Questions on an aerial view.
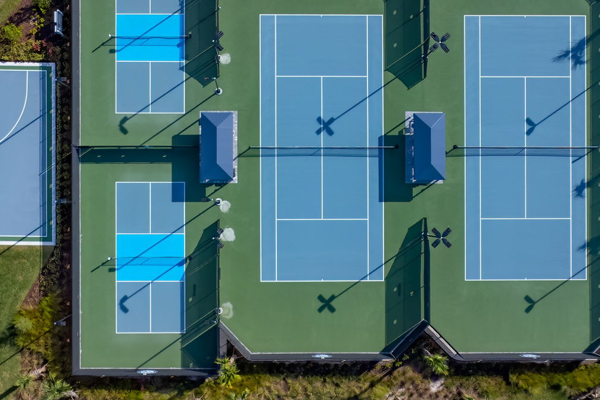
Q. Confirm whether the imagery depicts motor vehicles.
No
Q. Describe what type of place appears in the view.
sports ground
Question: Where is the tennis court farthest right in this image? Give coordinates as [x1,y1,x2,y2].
[424,0,600,353]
